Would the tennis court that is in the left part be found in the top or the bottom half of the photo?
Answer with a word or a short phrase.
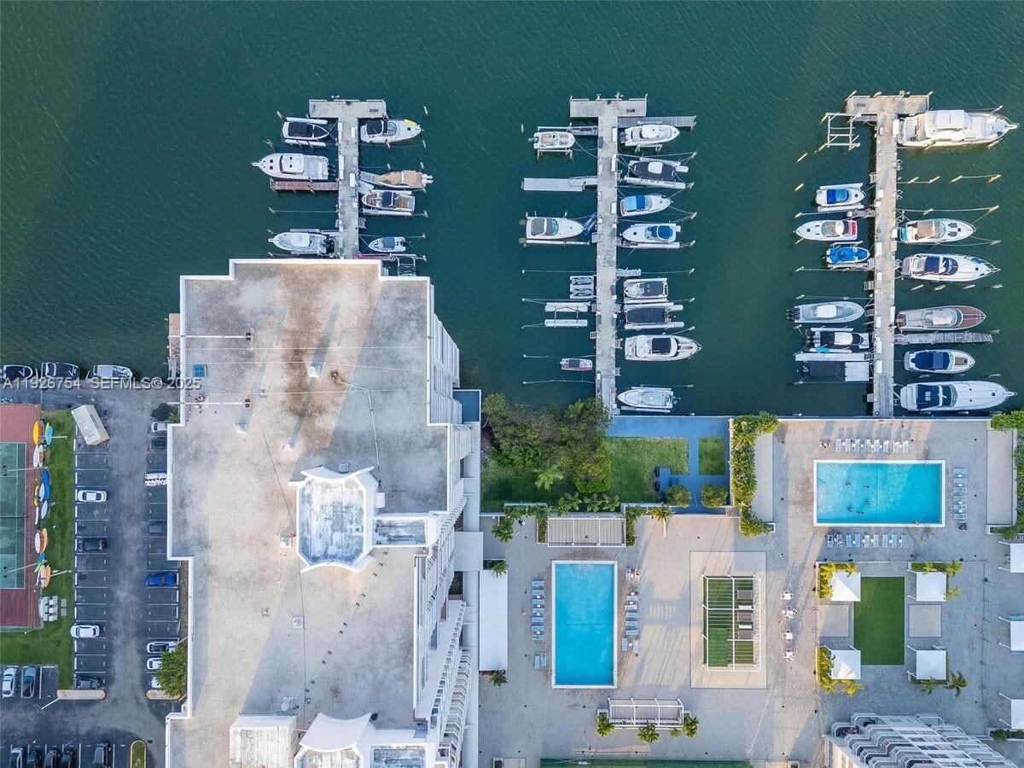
bottom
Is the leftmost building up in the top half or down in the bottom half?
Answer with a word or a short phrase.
bottom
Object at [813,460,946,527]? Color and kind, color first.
blue swimming pool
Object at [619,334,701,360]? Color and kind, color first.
white boat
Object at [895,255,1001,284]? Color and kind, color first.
white boat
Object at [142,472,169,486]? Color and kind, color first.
white vehicle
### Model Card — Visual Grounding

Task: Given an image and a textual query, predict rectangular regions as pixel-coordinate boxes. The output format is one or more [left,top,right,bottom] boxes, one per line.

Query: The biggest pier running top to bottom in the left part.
[309,92,387,260]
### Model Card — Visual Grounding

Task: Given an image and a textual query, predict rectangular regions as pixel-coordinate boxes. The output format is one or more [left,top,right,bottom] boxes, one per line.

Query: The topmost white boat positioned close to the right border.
[895,109,1015,151]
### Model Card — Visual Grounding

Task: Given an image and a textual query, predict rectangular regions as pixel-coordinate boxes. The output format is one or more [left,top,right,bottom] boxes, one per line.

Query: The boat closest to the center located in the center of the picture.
[556,359,592,372]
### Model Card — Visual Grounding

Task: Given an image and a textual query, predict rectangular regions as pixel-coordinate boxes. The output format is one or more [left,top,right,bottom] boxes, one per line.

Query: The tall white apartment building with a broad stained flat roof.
[167,260,474,768]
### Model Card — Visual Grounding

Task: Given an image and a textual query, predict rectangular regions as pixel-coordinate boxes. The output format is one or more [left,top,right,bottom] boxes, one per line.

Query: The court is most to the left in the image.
[0,404,43,634]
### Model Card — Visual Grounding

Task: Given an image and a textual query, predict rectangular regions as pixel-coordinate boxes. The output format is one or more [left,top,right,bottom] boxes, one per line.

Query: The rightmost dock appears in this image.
[895,333,993,346]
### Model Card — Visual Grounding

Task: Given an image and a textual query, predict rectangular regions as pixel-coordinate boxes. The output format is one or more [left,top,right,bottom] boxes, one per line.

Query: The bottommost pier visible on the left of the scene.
[166,313,181,380]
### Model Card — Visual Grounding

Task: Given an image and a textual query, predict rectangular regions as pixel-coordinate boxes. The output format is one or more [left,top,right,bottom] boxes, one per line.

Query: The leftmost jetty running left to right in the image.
[272,180,338,193]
